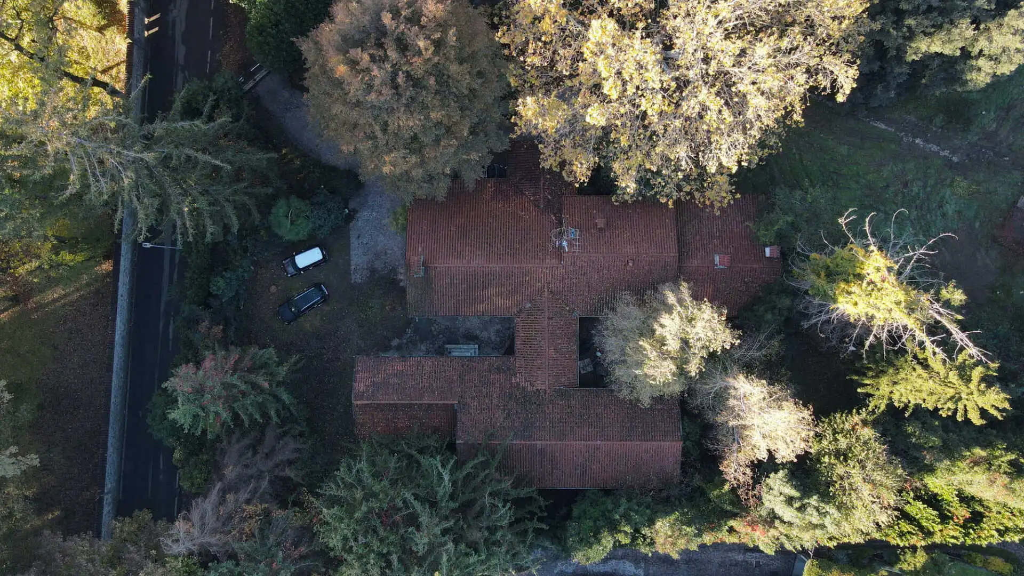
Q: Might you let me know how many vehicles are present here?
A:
2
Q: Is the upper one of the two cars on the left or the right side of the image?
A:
left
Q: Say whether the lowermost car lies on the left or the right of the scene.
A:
left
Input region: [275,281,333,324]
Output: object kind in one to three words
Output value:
car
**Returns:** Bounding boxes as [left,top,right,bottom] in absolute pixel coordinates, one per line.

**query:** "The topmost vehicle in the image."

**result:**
[282,243,329,276]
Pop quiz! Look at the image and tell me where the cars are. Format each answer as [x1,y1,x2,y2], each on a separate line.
[275,281,333,324]
[282,243,329,276]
